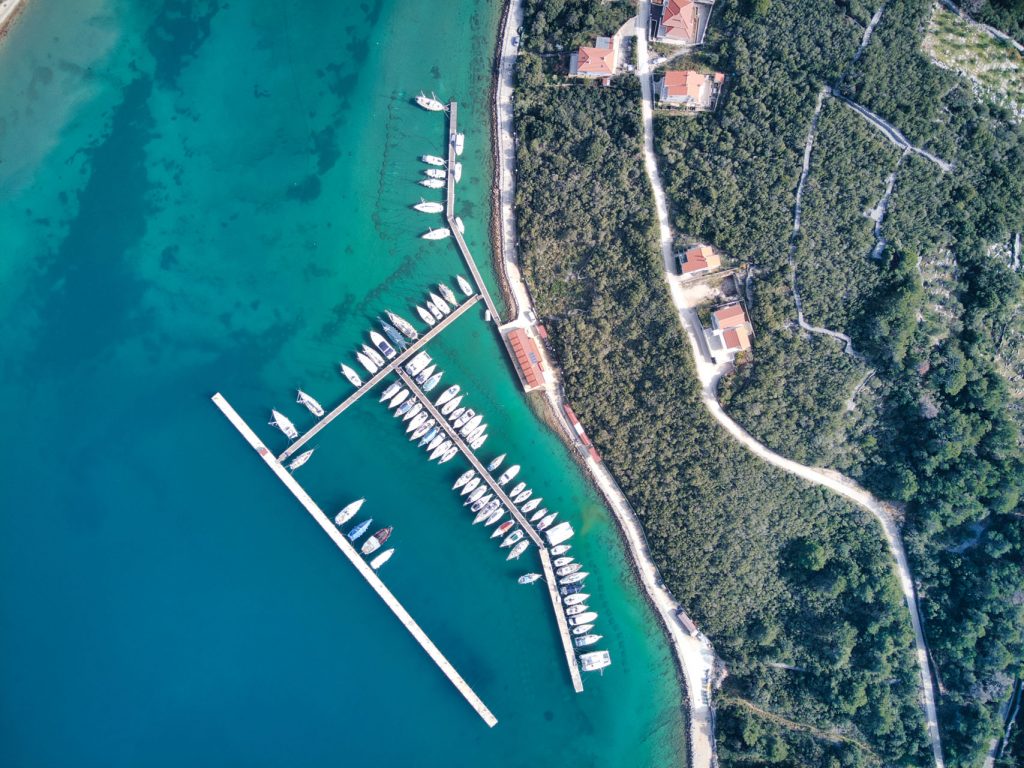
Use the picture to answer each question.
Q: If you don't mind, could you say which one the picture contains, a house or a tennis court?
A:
house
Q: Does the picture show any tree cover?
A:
Yes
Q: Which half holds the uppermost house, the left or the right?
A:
right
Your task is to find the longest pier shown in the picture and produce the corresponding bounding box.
[211,392,498,727]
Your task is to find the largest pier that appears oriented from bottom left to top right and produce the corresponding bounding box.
[284,295,479,461]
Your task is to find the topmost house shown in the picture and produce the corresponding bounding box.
[657,0,700,46]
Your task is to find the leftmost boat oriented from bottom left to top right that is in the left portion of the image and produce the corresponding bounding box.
[291,450,313,474]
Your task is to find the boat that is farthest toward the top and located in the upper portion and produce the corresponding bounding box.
[414,92,451,112]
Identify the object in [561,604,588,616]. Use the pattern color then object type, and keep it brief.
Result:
white boat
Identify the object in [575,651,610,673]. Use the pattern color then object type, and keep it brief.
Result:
white boat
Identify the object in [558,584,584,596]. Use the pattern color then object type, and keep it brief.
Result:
blue boat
